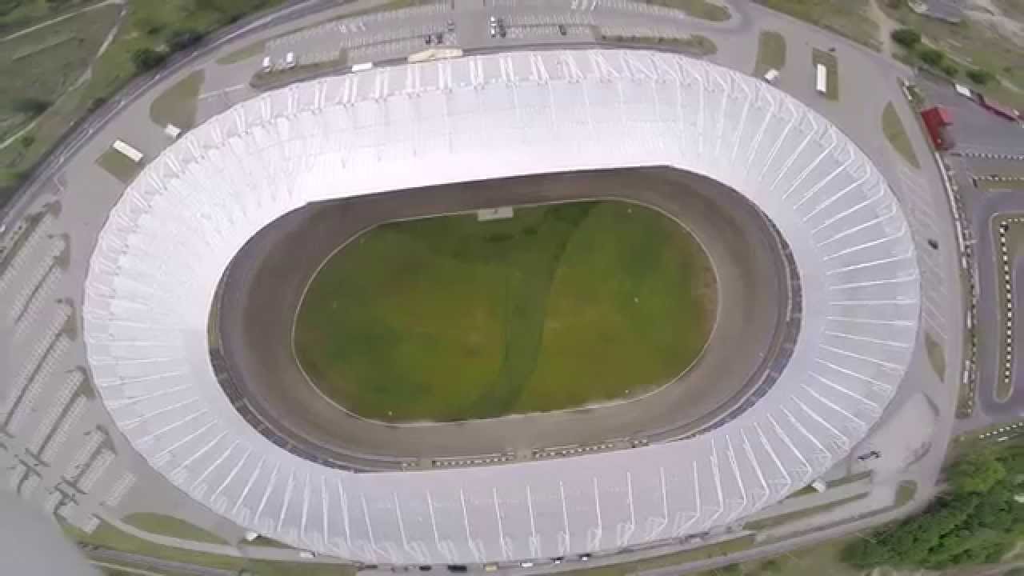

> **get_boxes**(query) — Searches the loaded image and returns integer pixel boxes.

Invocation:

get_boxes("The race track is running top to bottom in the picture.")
[912,69,1024,418]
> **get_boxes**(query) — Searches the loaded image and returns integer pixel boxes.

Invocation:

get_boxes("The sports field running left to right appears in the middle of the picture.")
[293,199,719,424]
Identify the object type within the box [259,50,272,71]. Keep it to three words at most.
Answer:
vehicle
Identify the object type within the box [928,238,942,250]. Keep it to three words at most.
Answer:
vehicle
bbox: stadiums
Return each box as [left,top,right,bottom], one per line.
[79,46,925,568]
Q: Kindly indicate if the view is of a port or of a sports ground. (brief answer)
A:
sports ground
